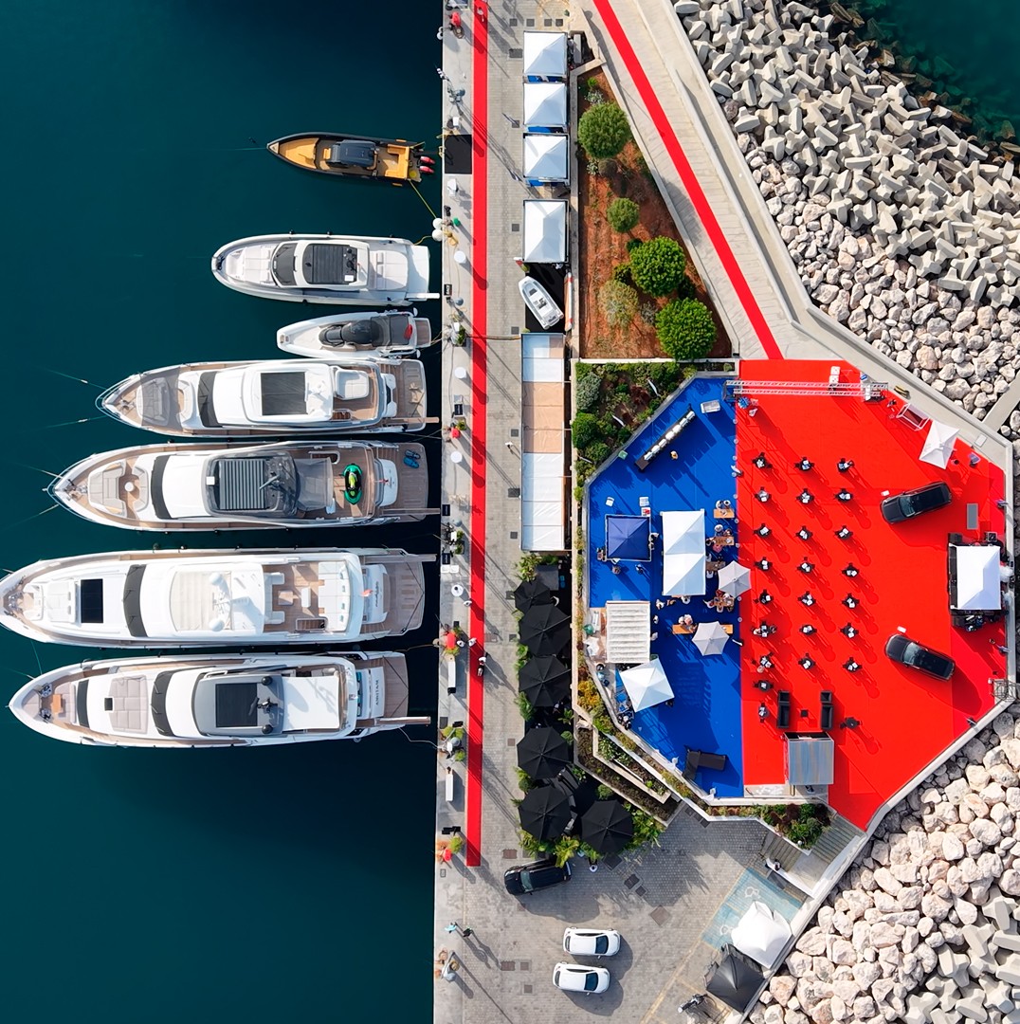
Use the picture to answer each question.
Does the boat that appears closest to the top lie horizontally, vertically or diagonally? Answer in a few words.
horizontally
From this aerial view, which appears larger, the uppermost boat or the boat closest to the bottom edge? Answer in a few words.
the boat closest to the bottom edge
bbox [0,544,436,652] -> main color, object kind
white boat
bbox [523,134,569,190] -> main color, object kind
white tent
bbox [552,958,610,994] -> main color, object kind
white car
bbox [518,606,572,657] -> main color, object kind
black umbrella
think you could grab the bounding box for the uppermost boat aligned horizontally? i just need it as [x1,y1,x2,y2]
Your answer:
[267,132,435,186]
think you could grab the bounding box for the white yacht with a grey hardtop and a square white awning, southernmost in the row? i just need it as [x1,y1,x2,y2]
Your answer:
[9,646,430,753]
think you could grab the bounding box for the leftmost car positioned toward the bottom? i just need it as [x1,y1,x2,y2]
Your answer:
[504,857,574,895]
